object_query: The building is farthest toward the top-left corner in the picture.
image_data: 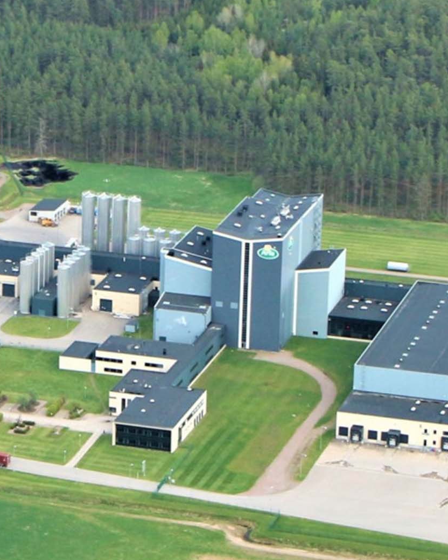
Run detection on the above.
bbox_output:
[29,198,68,222]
